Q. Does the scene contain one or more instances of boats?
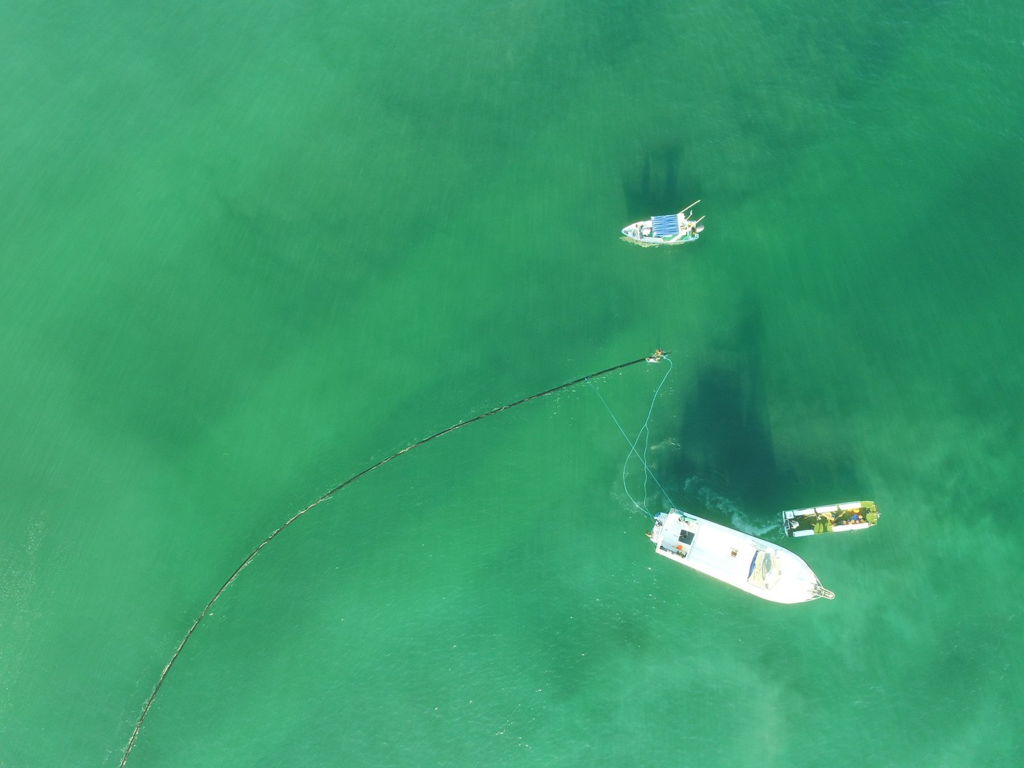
Yes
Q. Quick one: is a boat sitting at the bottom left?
No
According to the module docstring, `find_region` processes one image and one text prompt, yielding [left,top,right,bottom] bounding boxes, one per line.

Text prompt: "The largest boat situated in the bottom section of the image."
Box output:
[650,509,835,603]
